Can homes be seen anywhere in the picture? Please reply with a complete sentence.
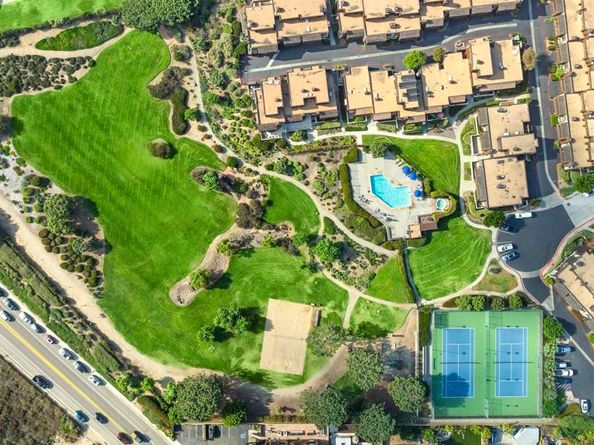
Yes, there is a home in the image.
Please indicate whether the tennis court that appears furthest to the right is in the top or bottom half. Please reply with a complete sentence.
You can find the tennis court that appears furthest to the right in the bottom half.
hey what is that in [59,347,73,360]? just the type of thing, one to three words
vehicle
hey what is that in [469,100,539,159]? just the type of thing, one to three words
house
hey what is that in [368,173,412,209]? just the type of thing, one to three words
swimming pool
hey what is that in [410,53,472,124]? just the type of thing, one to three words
house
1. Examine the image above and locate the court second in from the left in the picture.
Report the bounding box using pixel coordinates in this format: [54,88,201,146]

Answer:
[432,312,487,417]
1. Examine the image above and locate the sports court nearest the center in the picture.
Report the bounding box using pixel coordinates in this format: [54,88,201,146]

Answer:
[260,298,312,375]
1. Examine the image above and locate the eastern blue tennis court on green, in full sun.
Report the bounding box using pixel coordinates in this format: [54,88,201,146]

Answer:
[487,312,538,417]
